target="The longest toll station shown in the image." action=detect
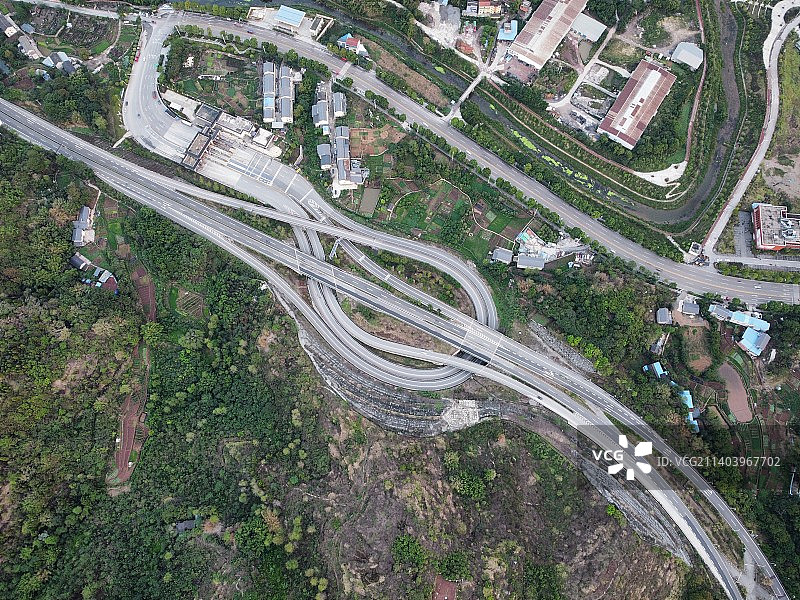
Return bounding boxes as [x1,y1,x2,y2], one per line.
[123,14,328,229]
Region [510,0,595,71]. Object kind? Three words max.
building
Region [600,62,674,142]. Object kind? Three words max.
building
